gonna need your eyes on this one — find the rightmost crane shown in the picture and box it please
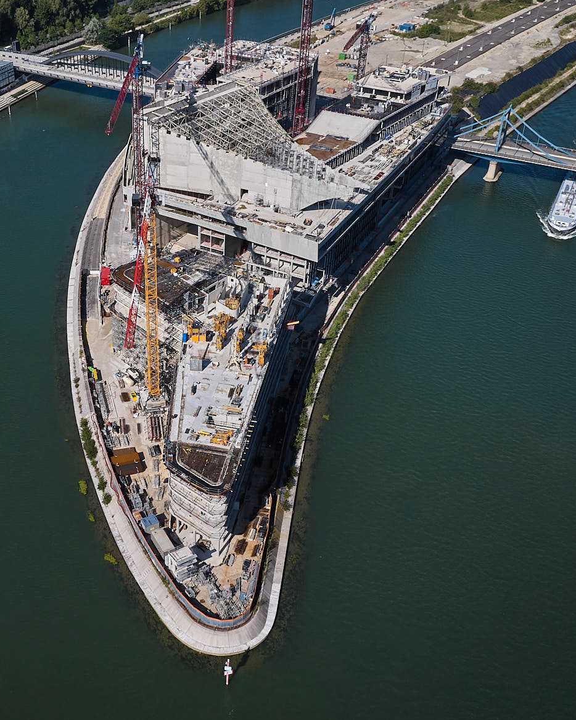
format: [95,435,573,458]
[340,8,370,83]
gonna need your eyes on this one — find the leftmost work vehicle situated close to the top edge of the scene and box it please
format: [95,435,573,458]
[324,0,337,28]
